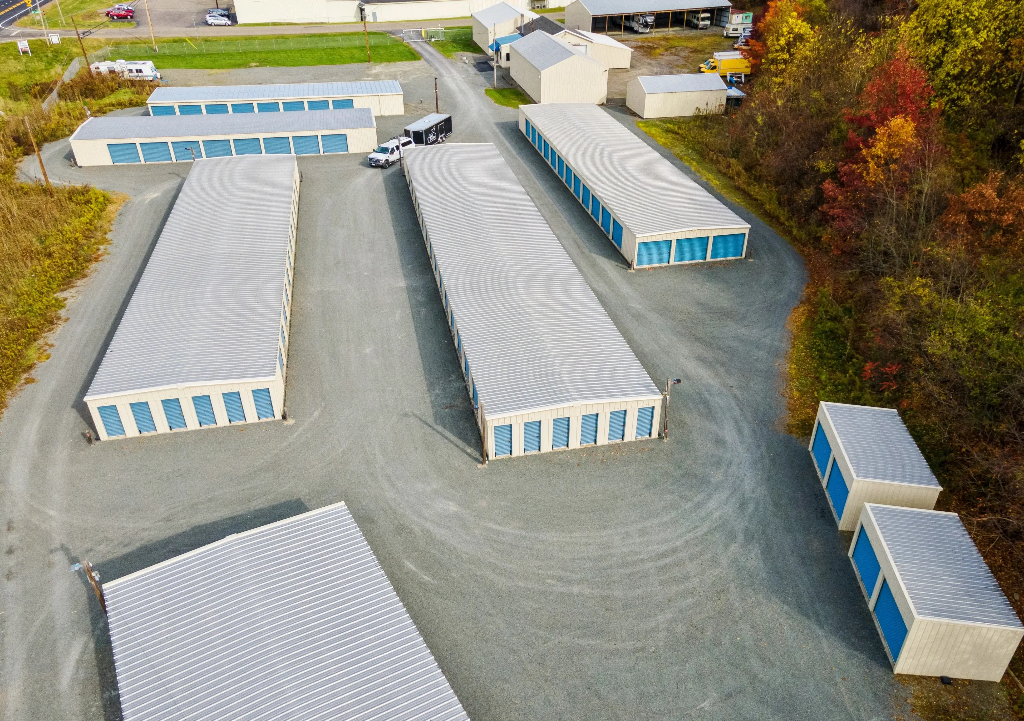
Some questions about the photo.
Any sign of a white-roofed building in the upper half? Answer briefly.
Yes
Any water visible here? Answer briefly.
No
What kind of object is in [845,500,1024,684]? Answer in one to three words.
shed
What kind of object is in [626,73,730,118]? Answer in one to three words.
barn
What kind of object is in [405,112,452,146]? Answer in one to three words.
trailer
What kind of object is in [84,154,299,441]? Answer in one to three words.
building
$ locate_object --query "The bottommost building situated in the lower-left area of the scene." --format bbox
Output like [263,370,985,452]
[100,499,457,721]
